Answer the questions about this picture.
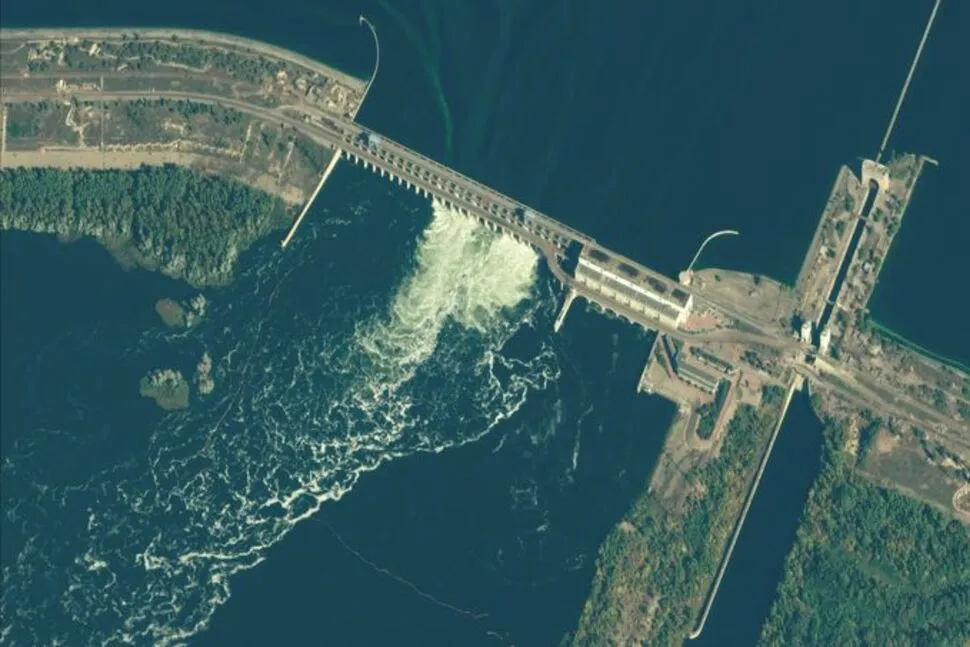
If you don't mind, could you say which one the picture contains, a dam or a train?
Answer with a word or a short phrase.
dam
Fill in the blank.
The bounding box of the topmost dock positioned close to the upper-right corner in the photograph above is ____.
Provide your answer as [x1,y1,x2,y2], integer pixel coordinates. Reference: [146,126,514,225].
[884,0,942,148]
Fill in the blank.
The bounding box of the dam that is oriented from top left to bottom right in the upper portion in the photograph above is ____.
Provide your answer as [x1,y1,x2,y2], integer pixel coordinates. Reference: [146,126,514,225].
[329,119,691,341]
